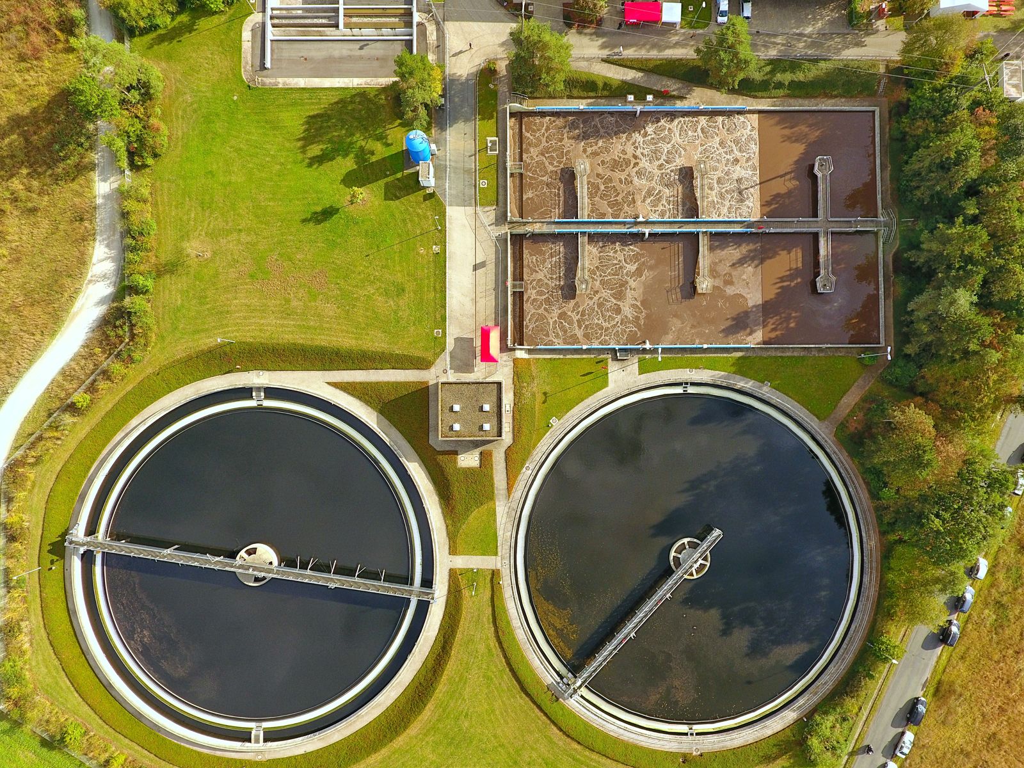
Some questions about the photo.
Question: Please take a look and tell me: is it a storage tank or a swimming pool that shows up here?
storage tank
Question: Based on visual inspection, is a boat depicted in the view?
No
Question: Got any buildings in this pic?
Yes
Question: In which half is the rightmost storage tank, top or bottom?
bottom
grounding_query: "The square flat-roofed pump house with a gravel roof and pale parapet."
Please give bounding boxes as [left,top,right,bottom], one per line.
[440,378,504,440]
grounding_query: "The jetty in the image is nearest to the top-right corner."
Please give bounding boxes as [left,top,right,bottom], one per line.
[812,156,832,221]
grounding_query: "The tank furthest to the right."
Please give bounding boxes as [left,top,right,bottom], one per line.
[499,370,881,752]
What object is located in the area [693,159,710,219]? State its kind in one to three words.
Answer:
pier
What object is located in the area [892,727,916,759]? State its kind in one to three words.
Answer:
car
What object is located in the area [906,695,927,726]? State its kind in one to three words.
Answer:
car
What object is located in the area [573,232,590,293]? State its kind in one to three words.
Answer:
pier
